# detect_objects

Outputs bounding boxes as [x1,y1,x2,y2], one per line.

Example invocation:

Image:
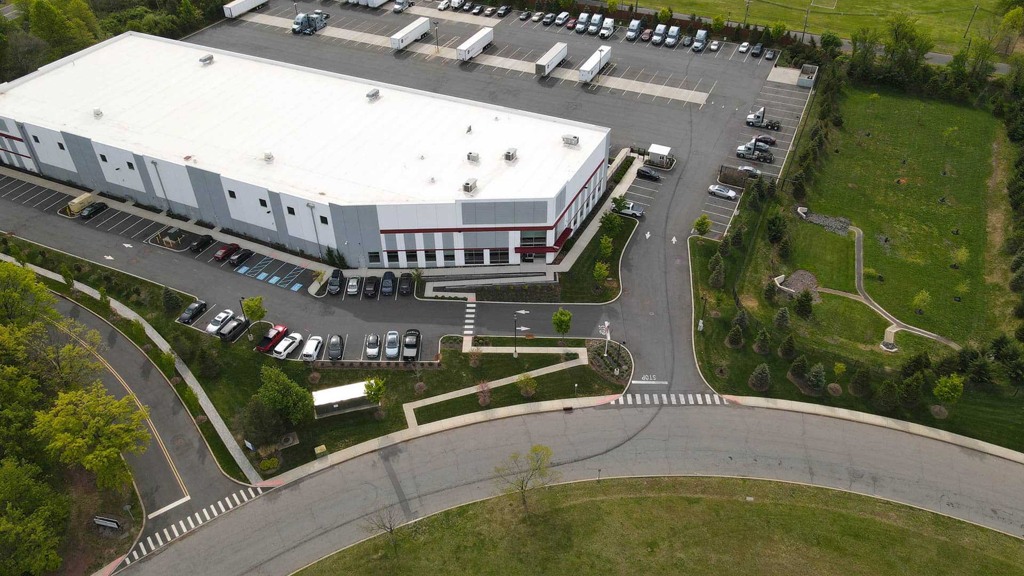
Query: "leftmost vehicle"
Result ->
[79,201,107,218]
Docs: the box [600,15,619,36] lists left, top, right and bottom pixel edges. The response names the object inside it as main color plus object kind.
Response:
white vehicle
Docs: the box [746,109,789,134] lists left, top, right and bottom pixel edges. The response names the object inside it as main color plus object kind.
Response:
gray truck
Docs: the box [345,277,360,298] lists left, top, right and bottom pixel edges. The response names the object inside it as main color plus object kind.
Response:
gray car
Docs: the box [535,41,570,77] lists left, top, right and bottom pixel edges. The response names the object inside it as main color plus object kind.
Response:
white trailer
